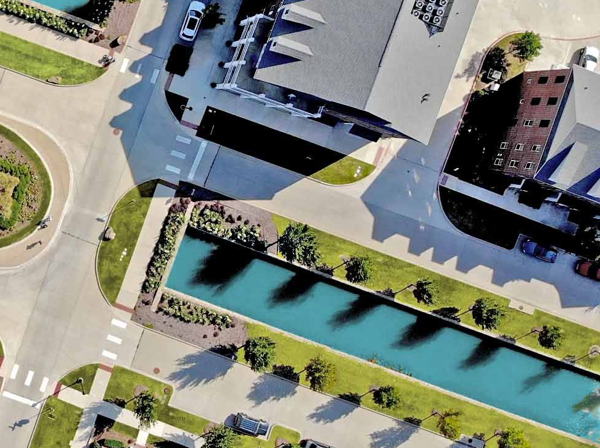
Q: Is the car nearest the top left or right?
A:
left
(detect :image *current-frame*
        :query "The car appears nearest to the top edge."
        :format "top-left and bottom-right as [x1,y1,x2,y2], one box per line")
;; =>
[178,0,205,44]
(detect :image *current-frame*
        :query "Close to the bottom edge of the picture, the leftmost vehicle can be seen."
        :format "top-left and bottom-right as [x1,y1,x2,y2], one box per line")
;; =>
[230,410,272,438]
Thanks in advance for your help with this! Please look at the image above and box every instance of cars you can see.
[517,238,561,264]
[178,0,205,44]
[304,436,340,448]
[577,39,600,71]
[572,257,600,280]
[230,410,272,438]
